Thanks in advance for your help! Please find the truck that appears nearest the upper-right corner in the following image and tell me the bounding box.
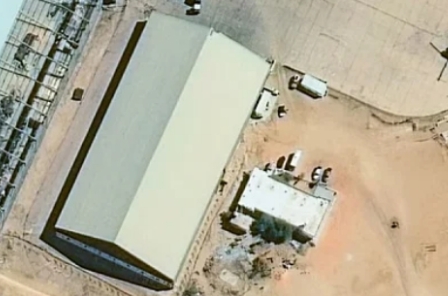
[294,76,329,97]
